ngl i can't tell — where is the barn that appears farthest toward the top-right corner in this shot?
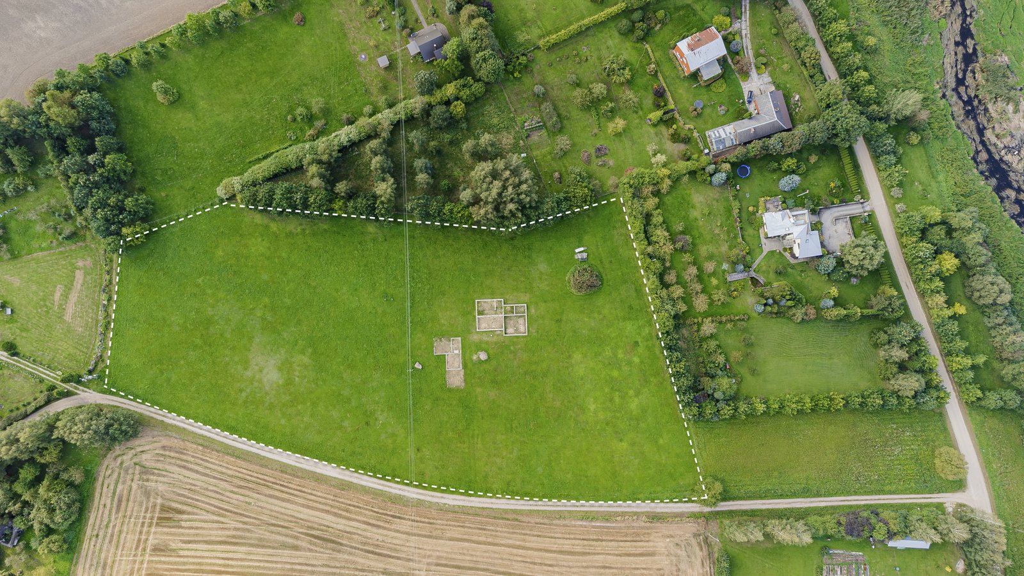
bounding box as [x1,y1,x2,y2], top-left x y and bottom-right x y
[732,91,792,144]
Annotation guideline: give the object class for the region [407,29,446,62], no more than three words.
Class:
house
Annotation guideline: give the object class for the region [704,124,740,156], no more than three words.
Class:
greenhouse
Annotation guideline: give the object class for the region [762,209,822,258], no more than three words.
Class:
house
